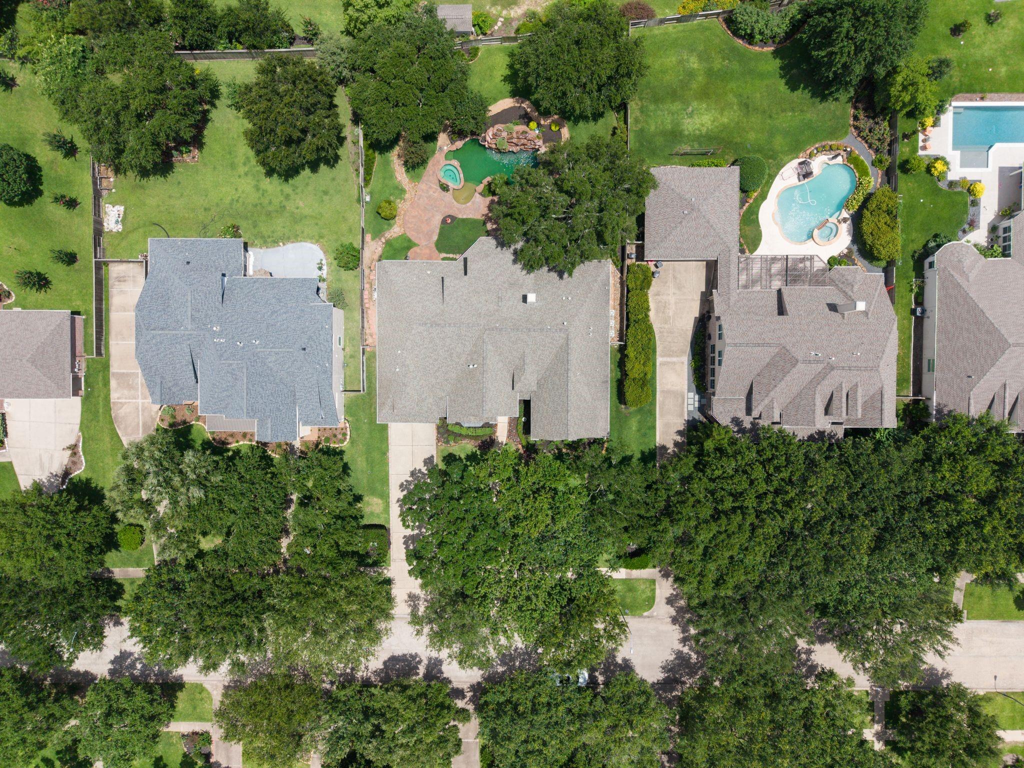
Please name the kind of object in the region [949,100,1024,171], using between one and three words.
swimming pool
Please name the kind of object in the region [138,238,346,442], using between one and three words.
house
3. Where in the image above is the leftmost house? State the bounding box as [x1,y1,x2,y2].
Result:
[0,310,85,399]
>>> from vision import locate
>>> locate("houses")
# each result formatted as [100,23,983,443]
[138,238,346,442]
[923,208,1024,435]
[376,236,611,441]
[0,310,85,399]
[644,165,898,443]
